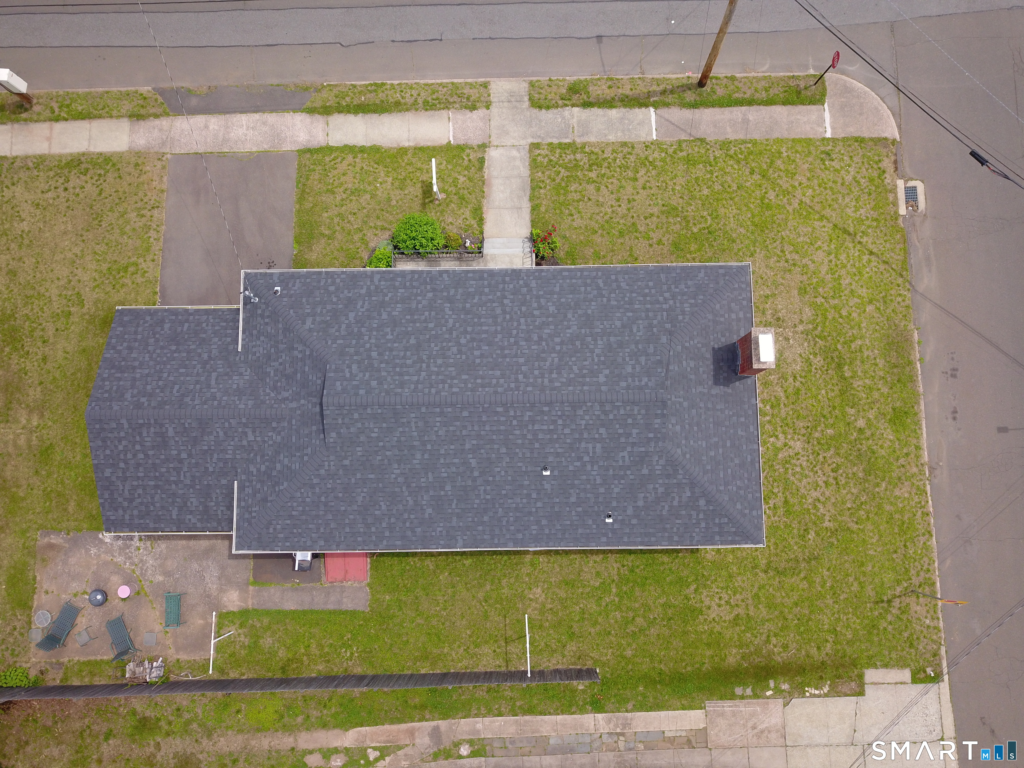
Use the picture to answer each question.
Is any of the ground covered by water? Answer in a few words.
No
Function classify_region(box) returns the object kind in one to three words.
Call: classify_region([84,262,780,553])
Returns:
house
